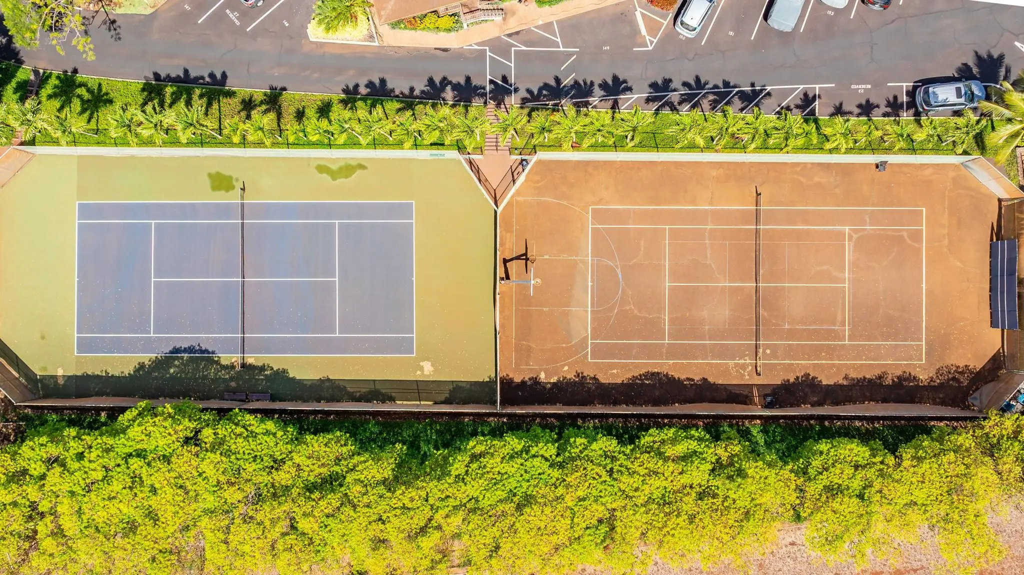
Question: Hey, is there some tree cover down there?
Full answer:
Yes, there is tree cover in the image.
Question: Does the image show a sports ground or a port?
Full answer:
It's a sports ground.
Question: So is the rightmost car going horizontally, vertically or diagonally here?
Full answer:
Seen from above, the rightmost car lies horizontally.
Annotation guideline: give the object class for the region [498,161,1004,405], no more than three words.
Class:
tennis court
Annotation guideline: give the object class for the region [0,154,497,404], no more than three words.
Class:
tennis court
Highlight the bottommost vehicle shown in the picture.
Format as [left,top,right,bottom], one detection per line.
[915,79,988,114]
